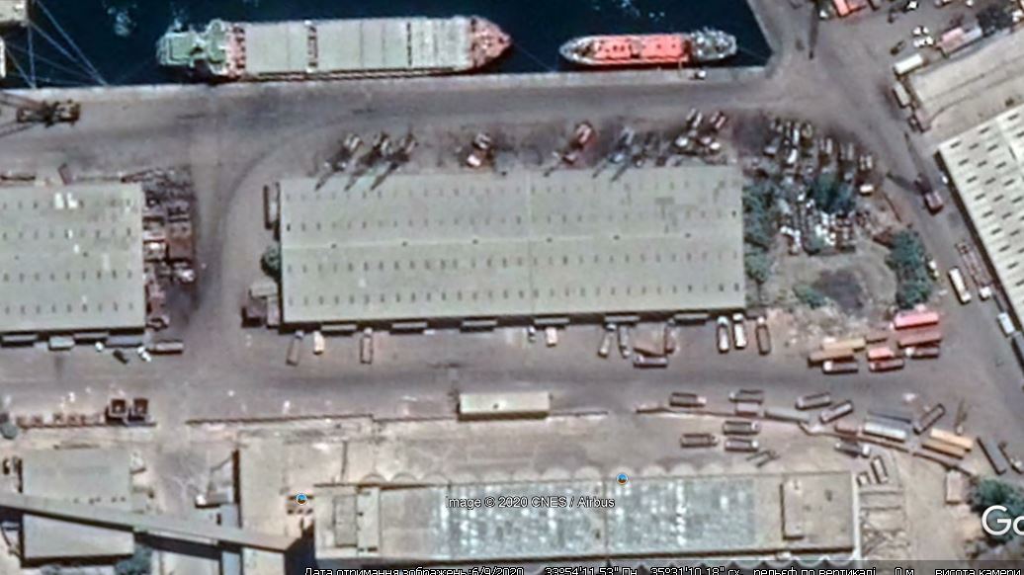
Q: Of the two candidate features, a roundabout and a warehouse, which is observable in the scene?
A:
warehouse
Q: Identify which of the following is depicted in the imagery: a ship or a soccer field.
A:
ship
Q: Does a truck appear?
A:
Yes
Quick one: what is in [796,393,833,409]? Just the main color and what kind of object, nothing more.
gray vehicle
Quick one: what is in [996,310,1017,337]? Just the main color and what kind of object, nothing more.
white truck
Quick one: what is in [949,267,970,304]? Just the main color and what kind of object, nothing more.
white truck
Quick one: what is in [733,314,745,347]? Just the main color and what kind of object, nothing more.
white vehicle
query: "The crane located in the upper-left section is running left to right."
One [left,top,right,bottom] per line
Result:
[0,99,79,123]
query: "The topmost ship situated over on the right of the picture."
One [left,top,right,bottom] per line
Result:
[560,30,737,66]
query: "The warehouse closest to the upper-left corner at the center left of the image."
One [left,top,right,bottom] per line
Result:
[0,184,145,341]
